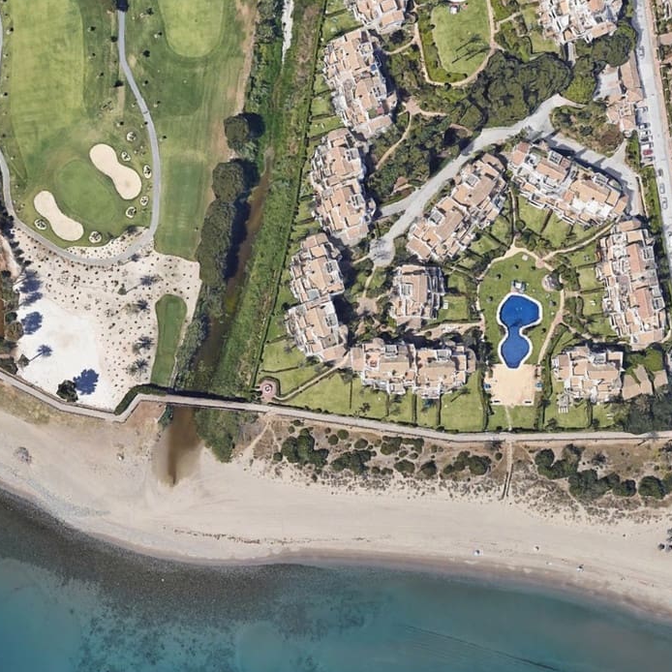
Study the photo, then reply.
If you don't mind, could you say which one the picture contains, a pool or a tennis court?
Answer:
pool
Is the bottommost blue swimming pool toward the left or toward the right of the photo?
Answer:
right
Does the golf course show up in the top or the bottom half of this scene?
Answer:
top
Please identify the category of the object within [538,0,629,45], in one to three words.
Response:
building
